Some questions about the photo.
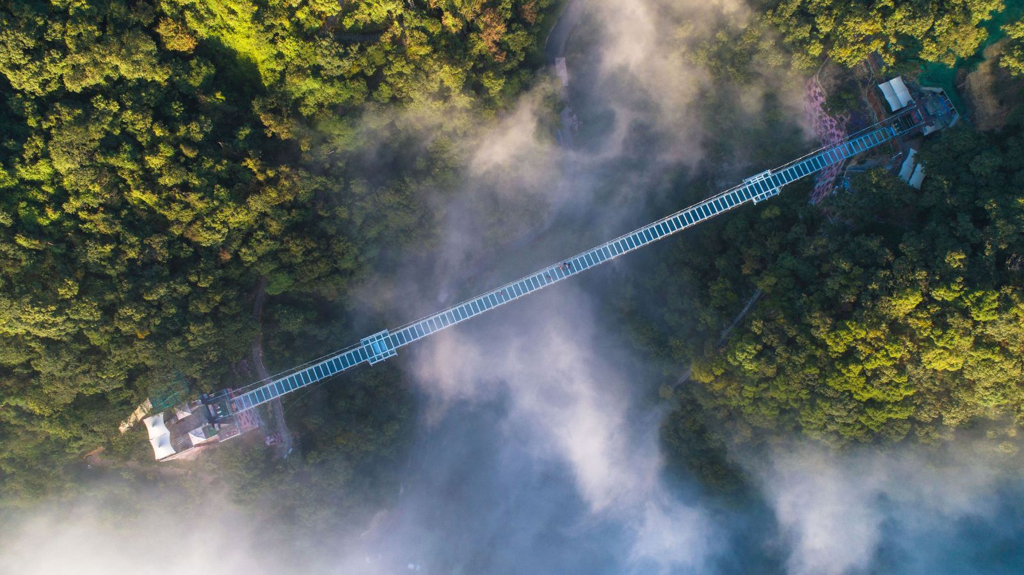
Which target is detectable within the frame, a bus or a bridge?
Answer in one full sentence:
The image shows a bridge.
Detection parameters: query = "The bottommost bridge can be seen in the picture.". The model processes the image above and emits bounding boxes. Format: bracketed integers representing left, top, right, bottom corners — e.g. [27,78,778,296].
[197,106,928,431]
